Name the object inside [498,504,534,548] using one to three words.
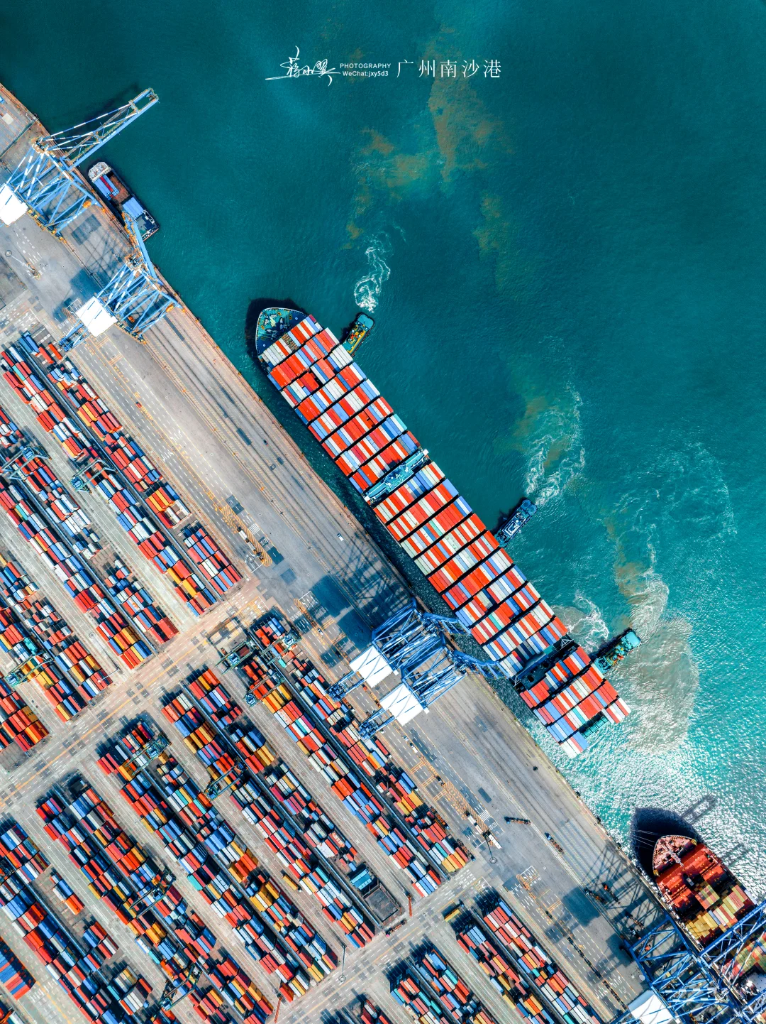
boat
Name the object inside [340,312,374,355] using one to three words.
boat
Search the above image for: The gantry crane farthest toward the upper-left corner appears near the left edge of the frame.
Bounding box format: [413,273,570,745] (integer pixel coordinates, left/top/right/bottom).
[0,90,159,250]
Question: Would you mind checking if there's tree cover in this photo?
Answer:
No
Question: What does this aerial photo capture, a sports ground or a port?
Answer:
port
